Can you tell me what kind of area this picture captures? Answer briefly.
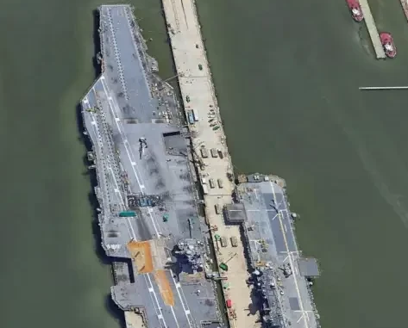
port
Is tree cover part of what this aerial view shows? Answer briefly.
No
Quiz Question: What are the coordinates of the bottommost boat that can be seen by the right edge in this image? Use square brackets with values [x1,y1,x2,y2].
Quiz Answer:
[379,31,397,58]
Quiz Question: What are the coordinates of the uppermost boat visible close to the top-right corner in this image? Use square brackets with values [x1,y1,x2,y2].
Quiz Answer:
[344,0,364,22]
